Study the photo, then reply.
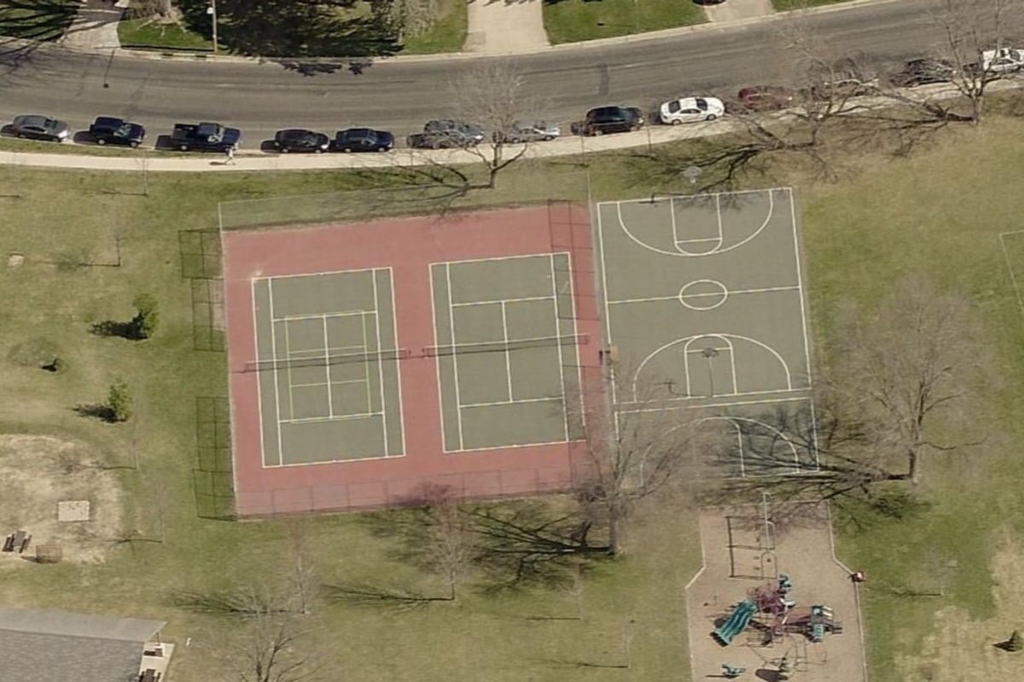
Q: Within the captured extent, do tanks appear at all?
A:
No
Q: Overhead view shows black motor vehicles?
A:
Yes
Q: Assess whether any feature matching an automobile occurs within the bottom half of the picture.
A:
No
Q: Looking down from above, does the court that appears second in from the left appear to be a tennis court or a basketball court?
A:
tennis court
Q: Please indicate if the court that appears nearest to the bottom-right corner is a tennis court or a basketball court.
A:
basketball court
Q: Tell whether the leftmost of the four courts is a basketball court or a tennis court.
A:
tennis court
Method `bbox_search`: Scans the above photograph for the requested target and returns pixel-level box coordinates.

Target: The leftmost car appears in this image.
[12,111,70,139]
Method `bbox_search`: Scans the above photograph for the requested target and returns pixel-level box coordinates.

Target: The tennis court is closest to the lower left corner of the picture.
[223,217,424,516]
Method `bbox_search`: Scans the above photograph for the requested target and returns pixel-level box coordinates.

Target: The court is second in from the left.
[404,202,610,501]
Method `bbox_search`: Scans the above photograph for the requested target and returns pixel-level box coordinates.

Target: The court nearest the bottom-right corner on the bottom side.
[611,393,821,492]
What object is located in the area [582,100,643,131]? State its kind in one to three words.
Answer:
car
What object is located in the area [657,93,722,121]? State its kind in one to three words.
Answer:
car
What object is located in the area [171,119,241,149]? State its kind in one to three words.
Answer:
truck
